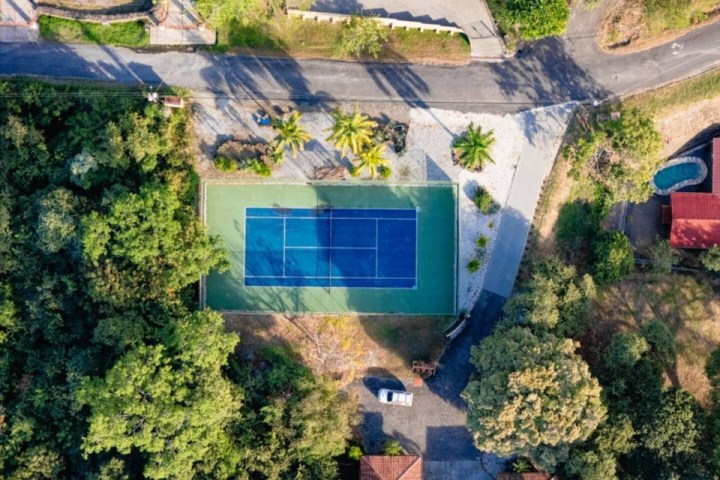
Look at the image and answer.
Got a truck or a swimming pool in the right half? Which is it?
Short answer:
swimming pool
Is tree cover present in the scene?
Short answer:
Yes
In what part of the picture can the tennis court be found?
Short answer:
center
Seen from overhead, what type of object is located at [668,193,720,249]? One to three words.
house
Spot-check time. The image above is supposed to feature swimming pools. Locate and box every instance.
[652,156,708,195]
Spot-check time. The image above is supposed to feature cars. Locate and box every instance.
[379,390,413,408]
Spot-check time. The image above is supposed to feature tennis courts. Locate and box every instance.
[198,178,458,316]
